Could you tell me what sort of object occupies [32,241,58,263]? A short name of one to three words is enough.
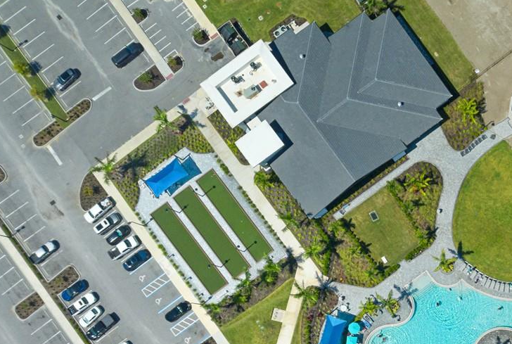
car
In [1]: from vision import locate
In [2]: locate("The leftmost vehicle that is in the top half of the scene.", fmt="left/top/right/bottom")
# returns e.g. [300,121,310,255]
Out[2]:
[54,68,81,90]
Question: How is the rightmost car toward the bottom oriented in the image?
on a diagonal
